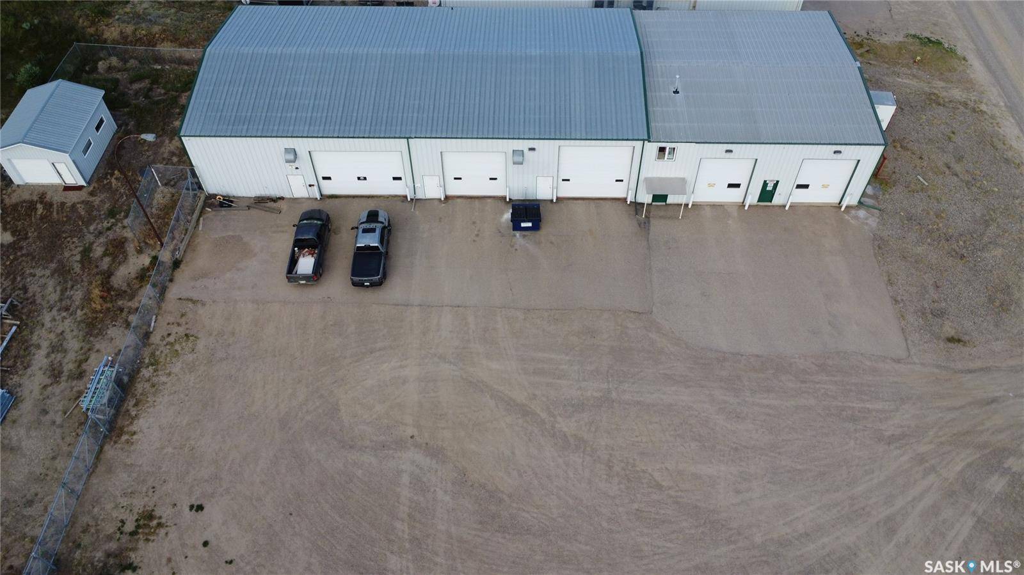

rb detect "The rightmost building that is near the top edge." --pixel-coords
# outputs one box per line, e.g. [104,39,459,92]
[633,8,889,217]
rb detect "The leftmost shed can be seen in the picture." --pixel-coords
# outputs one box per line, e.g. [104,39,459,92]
[0,83,116,191]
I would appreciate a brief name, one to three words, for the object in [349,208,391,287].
truck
